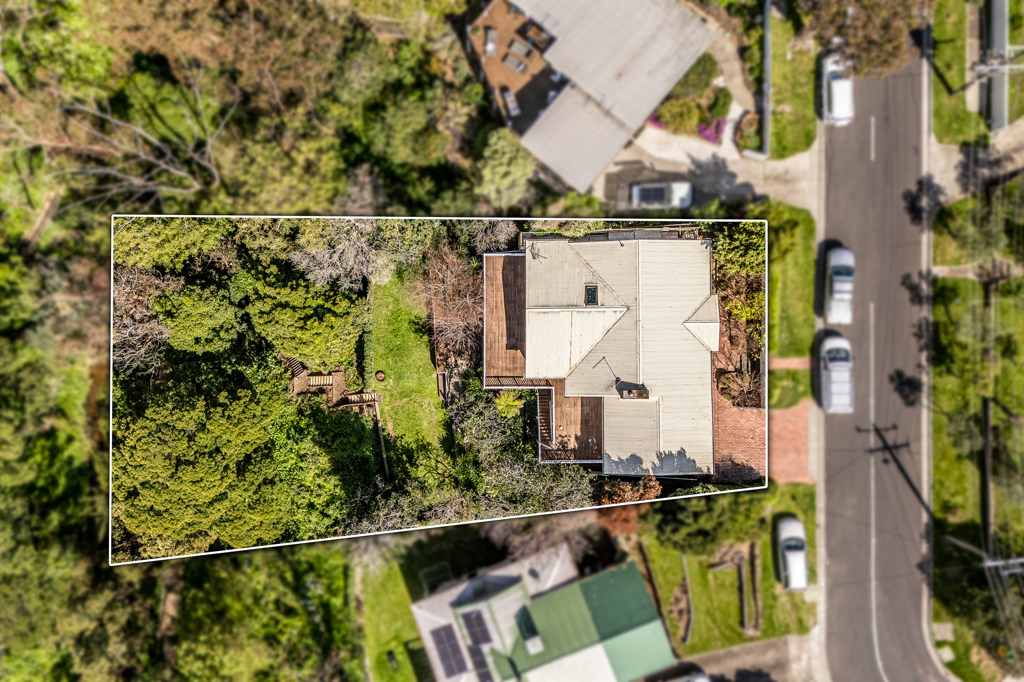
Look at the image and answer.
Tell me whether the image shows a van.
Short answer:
Yes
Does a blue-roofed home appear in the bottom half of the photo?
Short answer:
No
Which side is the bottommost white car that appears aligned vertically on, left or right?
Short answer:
right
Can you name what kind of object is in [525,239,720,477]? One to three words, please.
house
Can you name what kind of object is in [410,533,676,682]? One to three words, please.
house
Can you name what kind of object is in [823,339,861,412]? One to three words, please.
van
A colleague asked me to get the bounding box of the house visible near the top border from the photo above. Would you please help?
[514,0,717,198]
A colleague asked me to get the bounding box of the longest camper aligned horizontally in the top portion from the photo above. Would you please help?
[636,179,697,209]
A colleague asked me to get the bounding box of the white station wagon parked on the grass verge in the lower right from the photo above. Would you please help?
[779,518,814,593]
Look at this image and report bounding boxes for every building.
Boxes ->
[410,533,676,682]
[525,239,720,477]
[514,0,717,198]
